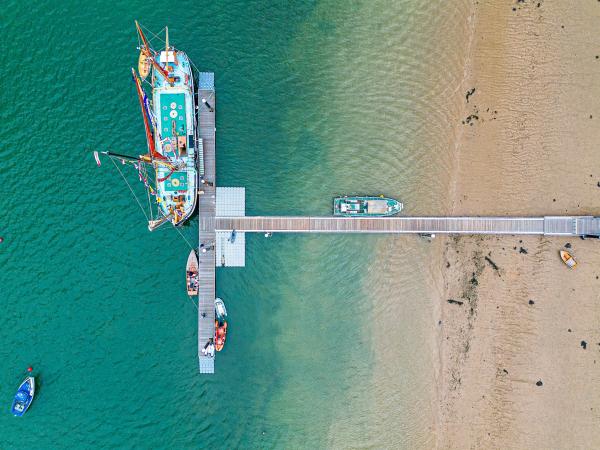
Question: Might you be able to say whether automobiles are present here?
No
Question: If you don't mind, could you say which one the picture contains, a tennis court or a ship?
ship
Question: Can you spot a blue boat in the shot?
Yes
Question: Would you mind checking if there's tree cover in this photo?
No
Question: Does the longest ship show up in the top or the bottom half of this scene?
top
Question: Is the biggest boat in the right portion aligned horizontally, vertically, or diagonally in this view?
horizontally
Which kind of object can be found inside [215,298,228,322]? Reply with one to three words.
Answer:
boat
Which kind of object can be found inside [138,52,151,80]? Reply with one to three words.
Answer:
boat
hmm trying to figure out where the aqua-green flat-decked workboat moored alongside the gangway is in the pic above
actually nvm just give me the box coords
[334,195,404,217]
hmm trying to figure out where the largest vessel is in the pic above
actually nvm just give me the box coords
[97,20,199,229]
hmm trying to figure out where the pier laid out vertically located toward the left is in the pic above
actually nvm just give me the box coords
[197,86,216,359]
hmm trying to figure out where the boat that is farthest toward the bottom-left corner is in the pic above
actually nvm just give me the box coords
[11,376,36,419]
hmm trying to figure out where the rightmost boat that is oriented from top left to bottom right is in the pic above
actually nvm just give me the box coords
[561,250,578,270]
